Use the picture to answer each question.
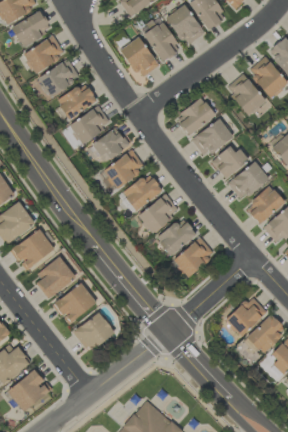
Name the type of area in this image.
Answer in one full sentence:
What you see here is a residential area.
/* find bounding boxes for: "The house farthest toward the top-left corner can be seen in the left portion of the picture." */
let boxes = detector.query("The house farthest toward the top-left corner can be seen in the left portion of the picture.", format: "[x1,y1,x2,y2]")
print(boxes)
[0,0,37,24]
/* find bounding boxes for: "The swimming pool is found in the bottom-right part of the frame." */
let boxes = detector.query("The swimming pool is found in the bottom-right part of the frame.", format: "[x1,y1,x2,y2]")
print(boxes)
[221,326,236,346]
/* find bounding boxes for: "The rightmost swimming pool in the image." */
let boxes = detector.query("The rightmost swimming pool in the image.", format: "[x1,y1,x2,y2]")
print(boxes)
[269,122,288,137]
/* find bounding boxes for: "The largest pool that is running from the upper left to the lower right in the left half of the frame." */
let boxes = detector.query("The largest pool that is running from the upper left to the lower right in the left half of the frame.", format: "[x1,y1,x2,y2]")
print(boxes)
[99,304,116,328]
